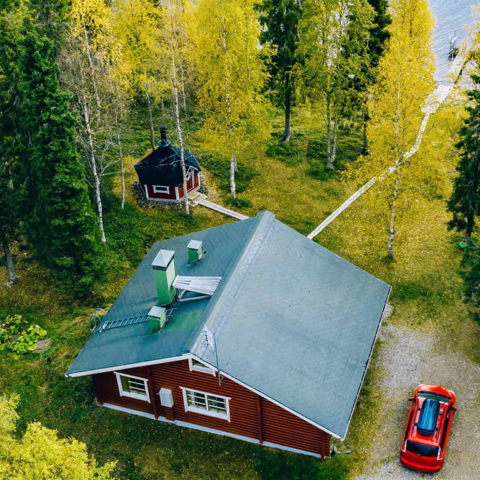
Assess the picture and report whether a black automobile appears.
No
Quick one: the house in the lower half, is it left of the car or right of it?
to its left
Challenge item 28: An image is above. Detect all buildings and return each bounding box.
[64,212,392,462]
[135,125,203,203]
